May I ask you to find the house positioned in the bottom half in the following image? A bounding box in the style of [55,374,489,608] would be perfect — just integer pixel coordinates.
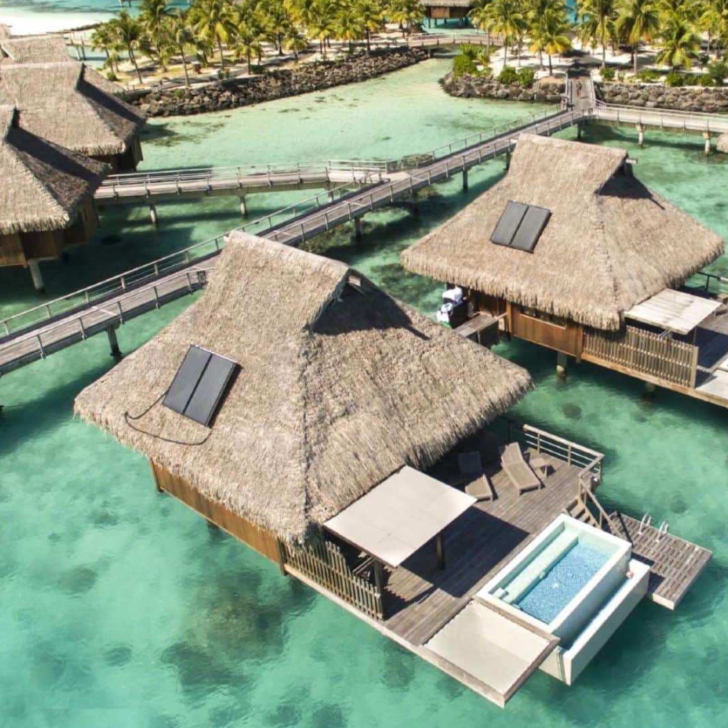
[75,229,715,701]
